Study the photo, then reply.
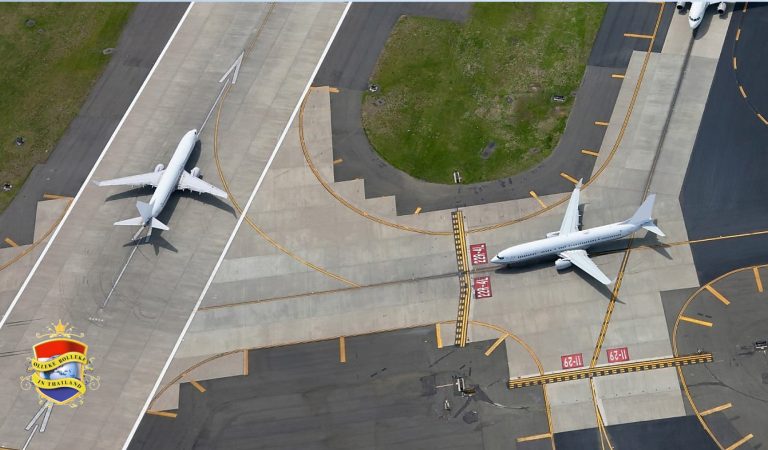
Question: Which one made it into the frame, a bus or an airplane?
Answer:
airplane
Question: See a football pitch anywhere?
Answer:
No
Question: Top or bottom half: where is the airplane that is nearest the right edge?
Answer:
top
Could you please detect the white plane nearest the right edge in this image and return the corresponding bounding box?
[675,0,726,28]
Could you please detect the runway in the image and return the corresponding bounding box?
[0,0,362,450]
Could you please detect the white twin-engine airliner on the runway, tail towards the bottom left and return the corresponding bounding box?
[93,128,229,229]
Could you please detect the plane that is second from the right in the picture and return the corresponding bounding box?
[490,176,665,286]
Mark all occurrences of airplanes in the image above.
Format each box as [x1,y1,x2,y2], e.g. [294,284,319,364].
[490,176,665,286]
[93,128,229,229]
[675,0,726,28]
